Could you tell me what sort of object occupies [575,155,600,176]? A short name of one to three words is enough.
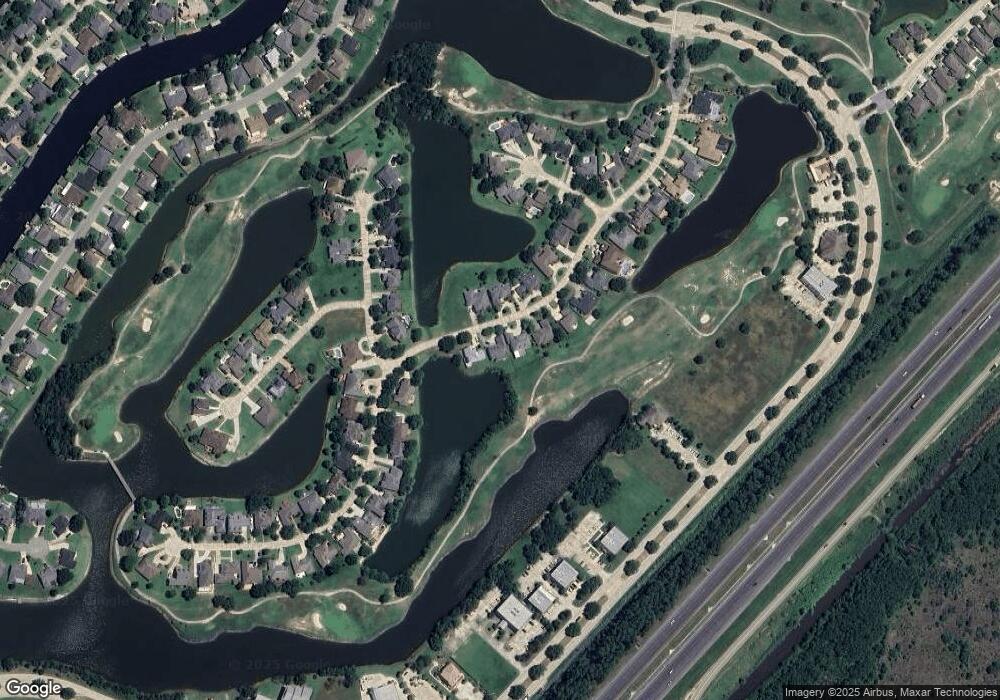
house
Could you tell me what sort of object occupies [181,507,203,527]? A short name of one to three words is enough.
house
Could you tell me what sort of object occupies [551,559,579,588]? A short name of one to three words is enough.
building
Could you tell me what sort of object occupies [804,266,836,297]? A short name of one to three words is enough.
building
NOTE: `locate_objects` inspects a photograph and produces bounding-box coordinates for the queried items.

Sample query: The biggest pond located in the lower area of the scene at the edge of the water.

[368,356,505,575]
